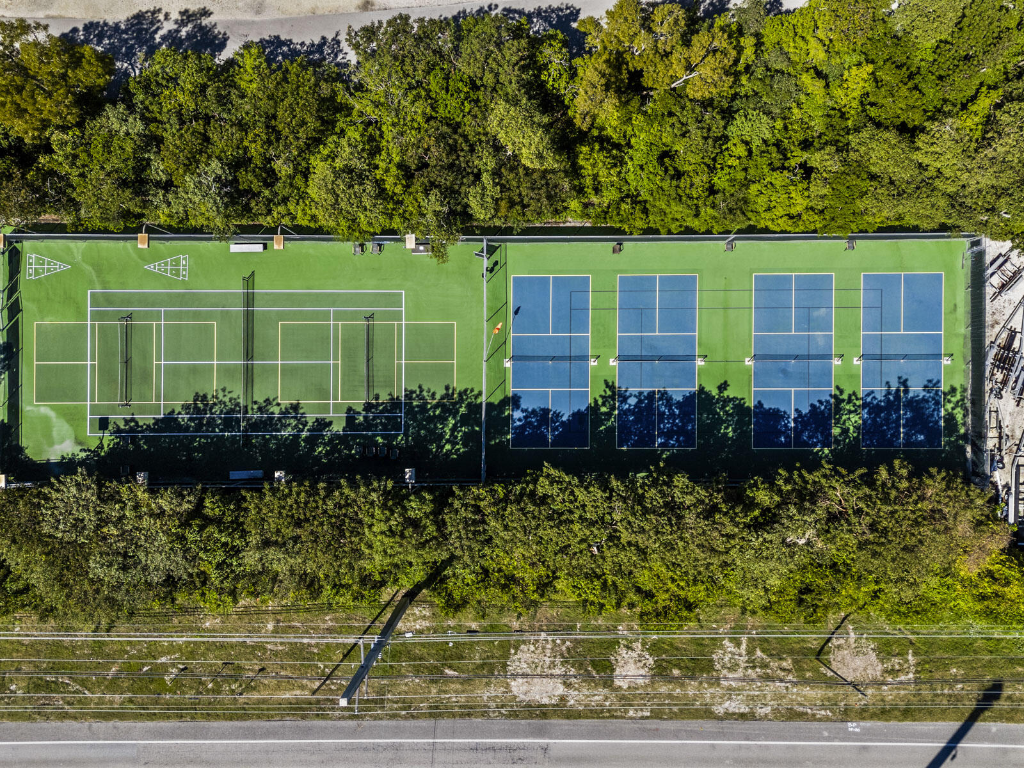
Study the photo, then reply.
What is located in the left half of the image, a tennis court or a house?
tennis court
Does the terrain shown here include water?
No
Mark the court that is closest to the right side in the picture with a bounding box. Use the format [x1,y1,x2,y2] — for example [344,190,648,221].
[861,272,944,449]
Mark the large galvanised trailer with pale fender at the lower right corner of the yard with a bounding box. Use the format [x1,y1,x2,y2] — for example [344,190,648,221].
[1003,430,1024,526]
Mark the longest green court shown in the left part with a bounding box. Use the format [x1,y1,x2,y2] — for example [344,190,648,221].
[87,290,404,435]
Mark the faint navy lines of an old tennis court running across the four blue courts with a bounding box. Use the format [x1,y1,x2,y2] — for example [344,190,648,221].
[569,289,882,436]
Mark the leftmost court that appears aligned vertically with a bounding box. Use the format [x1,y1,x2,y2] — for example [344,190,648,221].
[511,275,591,448]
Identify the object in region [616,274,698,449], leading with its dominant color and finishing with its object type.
blue sports court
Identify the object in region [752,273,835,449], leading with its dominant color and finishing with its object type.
blue sports court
